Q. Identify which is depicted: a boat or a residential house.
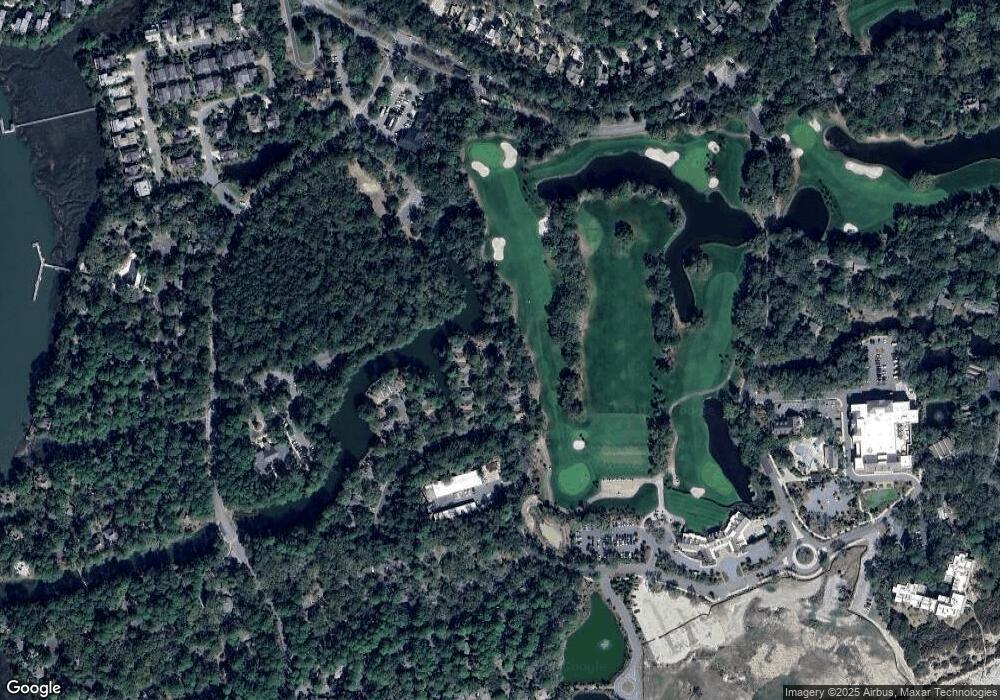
residential house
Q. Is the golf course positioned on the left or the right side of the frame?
right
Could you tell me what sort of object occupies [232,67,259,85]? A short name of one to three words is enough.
house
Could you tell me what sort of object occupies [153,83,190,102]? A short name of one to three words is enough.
house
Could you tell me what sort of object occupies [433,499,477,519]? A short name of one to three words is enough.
building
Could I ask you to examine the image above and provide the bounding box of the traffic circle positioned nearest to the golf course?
[785,536,820,571]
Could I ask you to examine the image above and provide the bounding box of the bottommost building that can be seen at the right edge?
[892,552,975,620]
